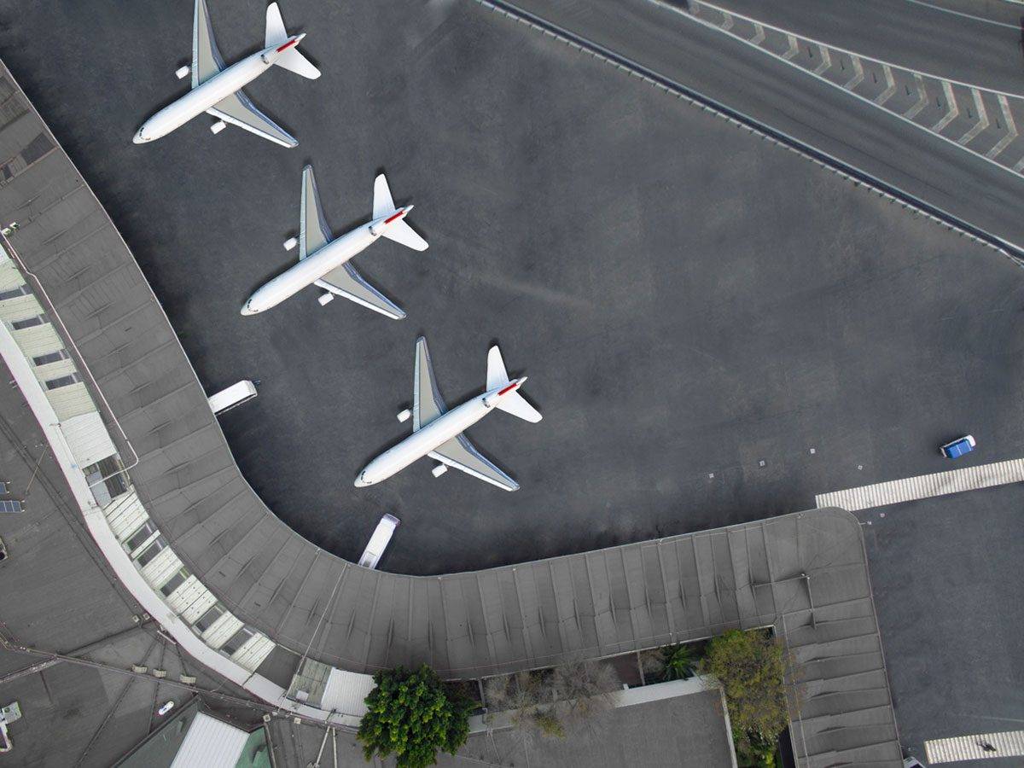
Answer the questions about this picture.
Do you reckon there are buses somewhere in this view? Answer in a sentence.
Yes, the frame does contain a bus.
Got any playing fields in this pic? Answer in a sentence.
No, no playing field is visible in the view.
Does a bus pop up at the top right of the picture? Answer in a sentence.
No, looking at the top right of the picture, there is no bus.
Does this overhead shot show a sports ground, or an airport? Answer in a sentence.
The area seen from above is an airport.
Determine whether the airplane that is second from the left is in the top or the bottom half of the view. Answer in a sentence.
It is in the top half that the airplane that is second from the left appears.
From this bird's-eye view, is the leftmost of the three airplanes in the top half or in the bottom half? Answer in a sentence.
The leftmost of the three airplanes is in the top half of the image.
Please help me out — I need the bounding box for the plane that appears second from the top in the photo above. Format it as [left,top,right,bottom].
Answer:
[241,159,430,318]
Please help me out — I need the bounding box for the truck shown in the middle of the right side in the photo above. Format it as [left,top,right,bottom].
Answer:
[940,436,977,461]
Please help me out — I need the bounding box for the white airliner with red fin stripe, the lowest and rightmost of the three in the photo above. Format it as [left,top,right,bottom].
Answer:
[354,333,545,491]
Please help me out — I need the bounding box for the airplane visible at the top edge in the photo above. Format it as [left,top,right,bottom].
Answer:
[133,0,321,146]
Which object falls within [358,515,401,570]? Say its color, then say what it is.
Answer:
white bus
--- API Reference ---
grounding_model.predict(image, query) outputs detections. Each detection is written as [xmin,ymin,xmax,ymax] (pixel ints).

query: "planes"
[241,159,430,318]
[133,0,321,146]
[354,333,545,491]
